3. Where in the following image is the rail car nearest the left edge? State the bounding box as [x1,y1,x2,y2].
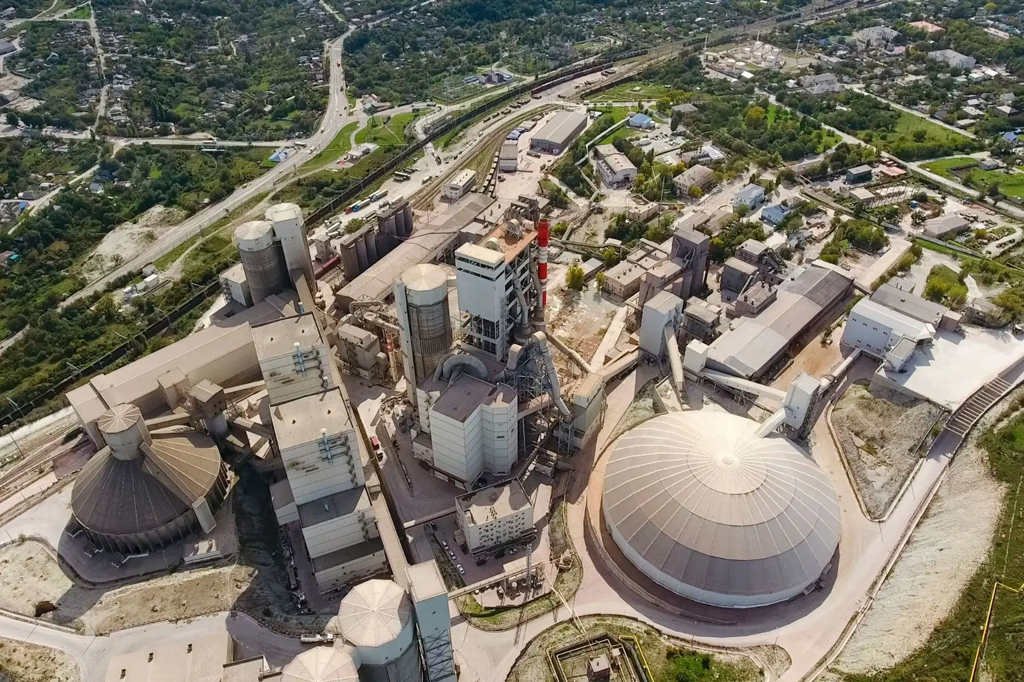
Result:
[63,425,85,442]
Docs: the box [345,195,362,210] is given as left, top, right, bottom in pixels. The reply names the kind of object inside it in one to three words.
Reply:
vehicle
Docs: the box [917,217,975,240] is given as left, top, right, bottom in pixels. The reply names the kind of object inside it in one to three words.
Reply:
building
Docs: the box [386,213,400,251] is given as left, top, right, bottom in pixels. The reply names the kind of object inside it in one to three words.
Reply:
silo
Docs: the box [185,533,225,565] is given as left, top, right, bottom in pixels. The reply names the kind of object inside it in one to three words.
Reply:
shed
